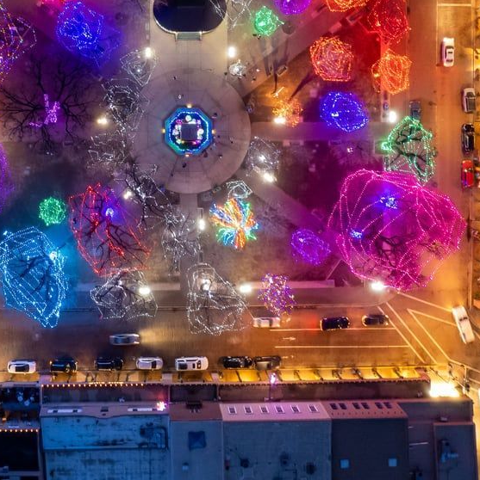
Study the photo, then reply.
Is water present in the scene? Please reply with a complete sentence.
No, there is no water in the image.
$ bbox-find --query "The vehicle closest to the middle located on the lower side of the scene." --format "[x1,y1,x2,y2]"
[252,315,281,329]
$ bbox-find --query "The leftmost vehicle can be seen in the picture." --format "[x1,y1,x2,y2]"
[7,360,36,375]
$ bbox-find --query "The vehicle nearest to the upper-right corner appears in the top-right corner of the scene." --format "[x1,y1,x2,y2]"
[441,34,457,68]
